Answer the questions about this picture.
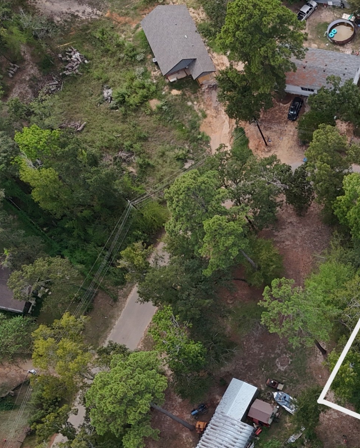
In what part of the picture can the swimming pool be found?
top right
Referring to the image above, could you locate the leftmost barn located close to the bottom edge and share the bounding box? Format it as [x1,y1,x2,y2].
[194,378,261,448]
